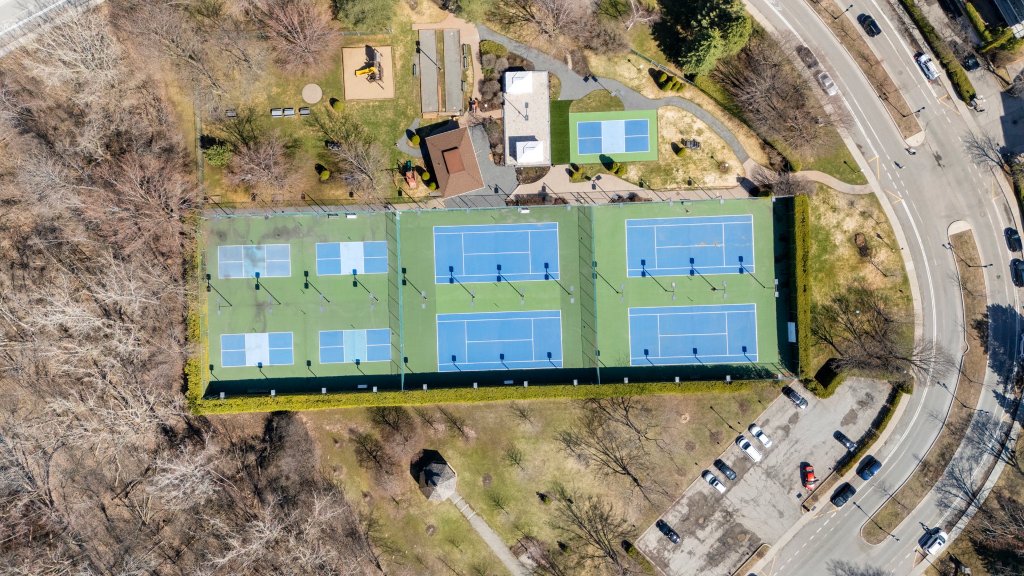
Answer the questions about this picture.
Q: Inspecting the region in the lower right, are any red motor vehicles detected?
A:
Yes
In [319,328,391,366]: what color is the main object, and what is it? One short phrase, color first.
blue sports court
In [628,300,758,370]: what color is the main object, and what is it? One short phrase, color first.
blue tennis court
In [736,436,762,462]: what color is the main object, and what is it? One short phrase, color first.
white car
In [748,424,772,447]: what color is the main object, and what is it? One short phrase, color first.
white car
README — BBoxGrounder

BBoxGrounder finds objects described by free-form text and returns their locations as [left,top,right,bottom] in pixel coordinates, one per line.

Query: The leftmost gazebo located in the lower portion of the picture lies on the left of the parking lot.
[419,460,457,500]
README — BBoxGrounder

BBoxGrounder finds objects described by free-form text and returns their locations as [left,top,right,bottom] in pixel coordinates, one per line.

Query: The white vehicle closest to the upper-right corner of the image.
[916,53,946,82]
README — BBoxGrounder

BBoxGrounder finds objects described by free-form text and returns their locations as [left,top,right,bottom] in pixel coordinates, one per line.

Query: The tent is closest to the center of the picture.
[517,141,544,165]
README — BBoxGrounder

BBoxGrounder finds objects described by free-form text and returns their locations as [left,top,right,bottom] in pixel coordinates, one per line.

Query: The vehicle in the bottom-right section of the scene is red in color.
[802,465,819,490]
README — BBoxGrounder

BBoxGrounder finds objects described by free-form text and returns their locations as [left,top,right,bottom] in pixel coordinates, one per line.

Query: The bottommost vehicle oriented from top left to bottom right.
[657,520,679,542]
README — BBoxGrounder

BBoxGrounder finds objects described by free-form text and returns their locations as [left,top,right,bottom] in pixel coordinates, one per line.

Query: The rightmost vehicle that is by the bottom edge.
[922,529,949,555]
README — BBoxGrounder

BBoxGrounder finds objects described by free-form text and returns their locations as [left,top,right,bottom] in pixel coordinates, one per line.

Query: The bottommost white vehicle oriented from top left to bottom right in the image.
[703,470,726,493]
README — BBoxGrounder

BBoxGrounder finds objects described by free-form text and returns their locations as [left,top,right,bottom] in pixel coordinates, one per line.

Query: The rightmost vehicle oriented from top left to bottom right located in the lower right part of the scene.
[834,430,857,452]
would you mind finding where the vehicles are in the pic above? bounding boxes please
[736,436,762,462]
[1003,226,1021,253]
[703,470,726,493]
[712,458,736,481]
[1019,333,1024,358]
[657,520,679,542]
[834,430,857,452]
[748,424,772,447]
[782,386,807,409]
[817,72,838,97]
[916,53,946,82]
[831,485,857,508]
[796,45,818,71]
[922,529,949,555]
[802,465,819,490]
[961,50,981,75]
[860,14,882,39]
[857,455,883,478]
